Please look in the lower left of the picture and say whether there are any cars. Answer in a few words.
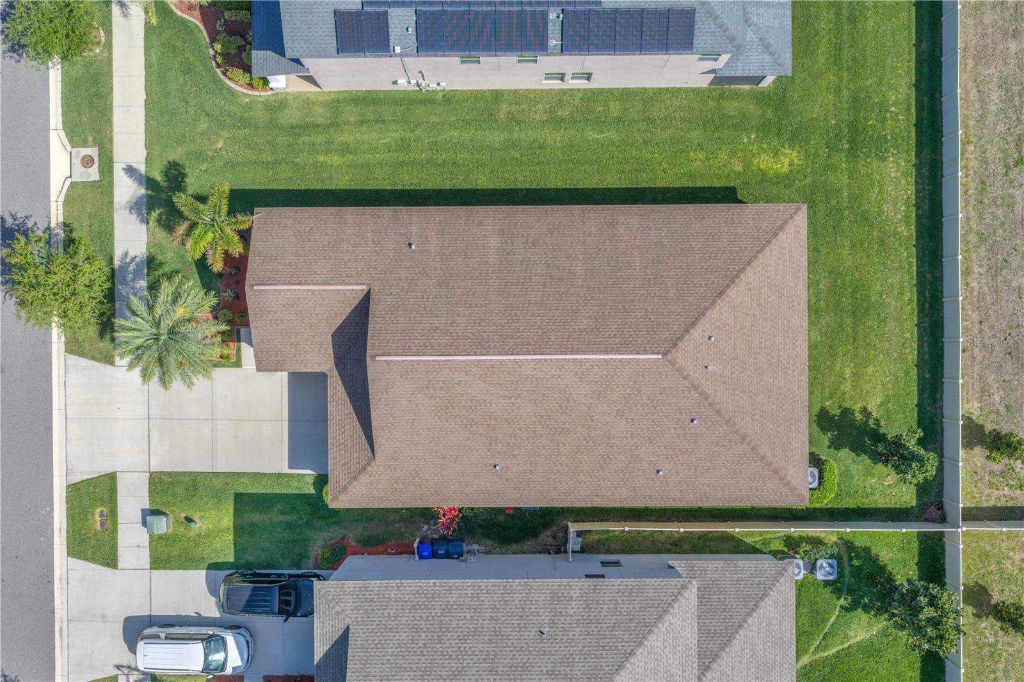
Yes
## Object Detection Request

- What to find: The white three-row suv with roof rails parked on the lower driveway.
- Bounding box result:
[135,626,254,682]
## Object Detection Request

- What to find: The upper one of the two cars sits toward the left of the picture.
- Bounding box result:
[219,573,325,627]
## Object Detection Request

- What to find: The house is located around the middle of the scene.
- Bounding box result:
[245,205,808,508]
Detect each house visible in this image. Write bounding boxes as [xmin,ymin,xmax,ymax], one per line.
[245,205,808,508]
[313,552,795,682]
[252,0,792,94]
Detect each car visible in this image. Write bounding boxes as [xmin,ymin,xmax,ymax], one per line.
[219,573,325,627]
[135,626,254,682]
